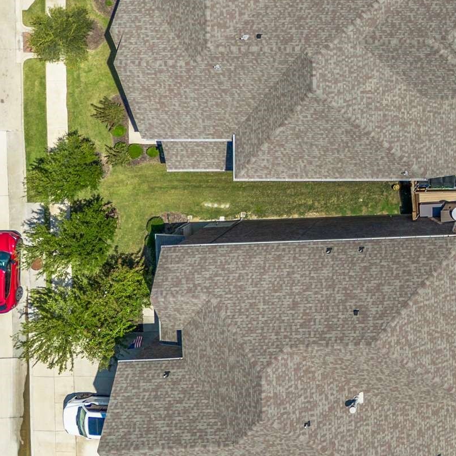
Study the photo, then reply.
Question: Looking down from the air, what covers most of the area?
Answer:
buildings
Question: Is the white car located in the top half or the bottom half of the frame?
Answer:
bottom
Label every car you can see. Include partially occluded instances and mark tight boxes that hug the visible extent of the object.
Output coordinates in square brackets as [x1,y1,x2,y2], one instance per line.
[64,393,110,440]
[0,230,25,313]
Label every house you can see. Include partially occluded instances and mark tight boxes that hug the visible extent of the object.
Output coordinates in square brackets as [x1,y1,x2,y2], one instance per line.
[98,217,456,456]
[109,0,456,182]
